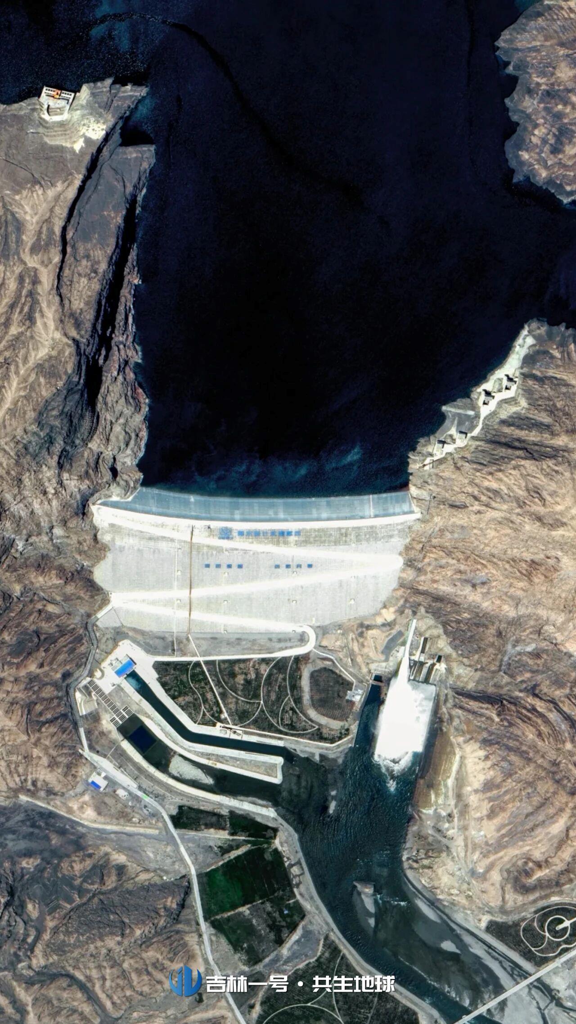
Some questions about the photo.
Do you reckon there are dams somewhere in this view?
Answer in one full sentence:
Yes, looking at the shot, I can spot a dam.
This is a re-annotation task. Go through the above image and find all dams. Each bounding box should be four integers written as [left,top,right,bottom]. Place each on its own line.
[89,487,422,633]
